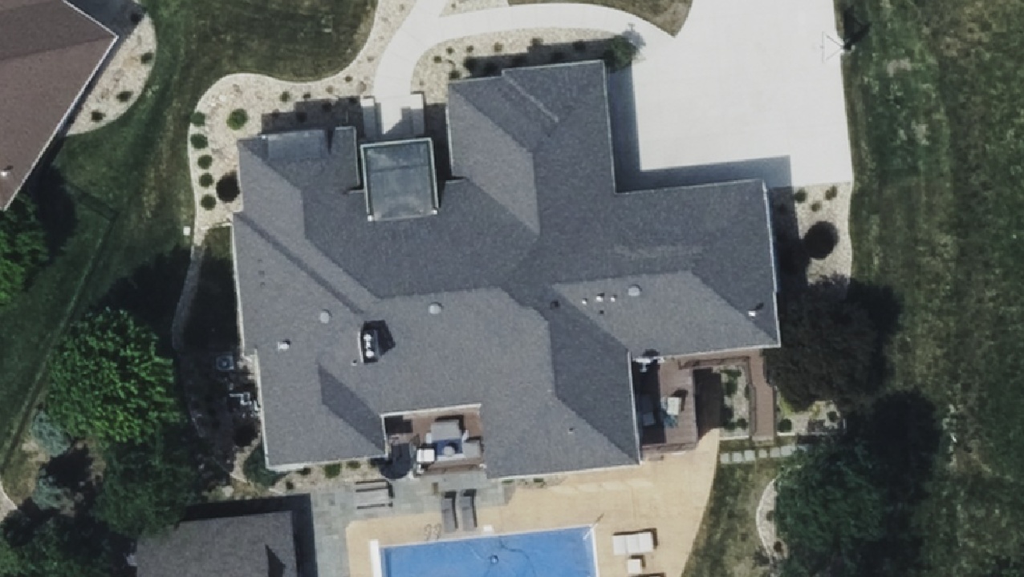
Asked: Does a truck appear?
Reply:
No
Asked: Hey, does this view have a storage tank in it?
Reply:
No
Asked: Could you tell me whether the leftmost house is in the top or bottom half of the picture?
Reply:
top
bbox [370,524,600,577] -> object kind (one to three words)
swimming pool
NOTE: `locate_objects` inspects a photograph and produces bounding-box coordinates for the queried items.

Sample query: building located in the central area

[230,60,781,481]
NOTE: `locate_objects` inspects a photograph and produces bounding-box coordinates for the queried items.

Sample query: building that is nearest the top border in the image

[0,0,122,216]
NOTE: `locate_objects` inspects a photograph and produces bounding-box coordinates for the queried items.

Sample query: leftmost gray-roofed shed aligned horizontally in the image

[133,511,298,577]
